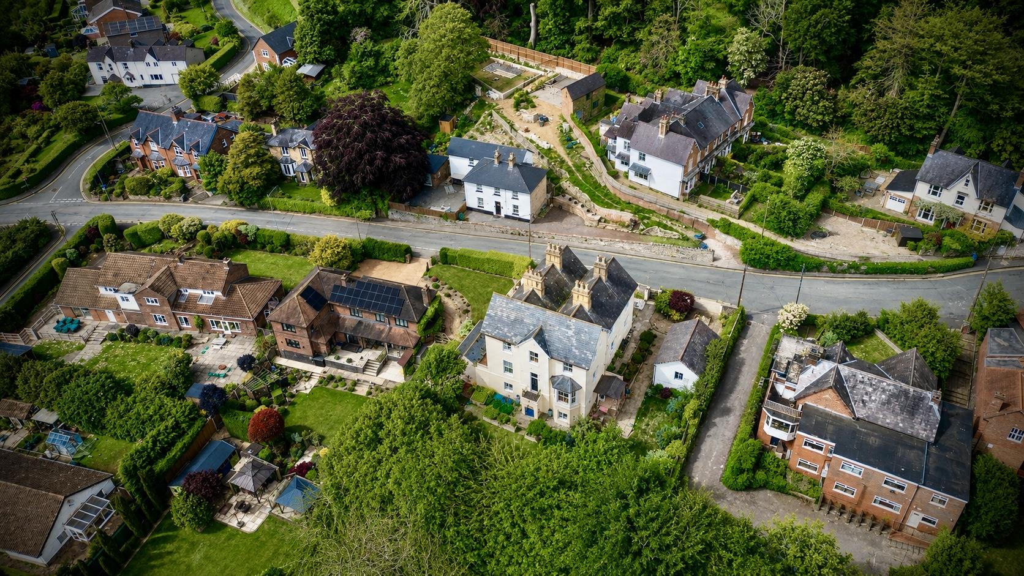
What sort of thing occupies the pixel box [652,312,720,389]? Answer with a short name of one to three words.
building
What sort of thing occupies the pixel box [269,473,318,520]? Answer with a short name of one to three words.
gazebo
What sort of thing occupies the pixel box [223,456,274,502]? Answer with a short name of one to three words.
gazebo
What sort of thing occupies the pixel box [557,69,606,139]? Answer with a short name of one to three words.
barn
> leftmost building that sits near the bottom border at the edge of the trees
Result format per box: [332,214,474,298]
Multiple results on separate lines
[0,440,126,571]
